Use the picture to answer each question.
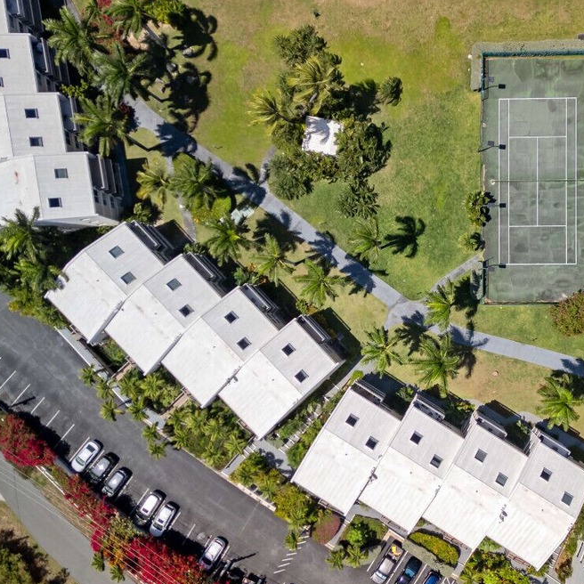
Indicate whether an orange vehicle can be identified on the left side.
No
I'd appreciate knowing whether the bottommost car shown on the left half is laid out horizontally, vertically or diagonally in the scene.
diagonally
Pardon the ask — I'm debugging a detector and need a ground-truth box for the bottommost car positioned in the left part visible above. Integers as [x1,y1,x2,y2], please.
[199,537,227,571]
